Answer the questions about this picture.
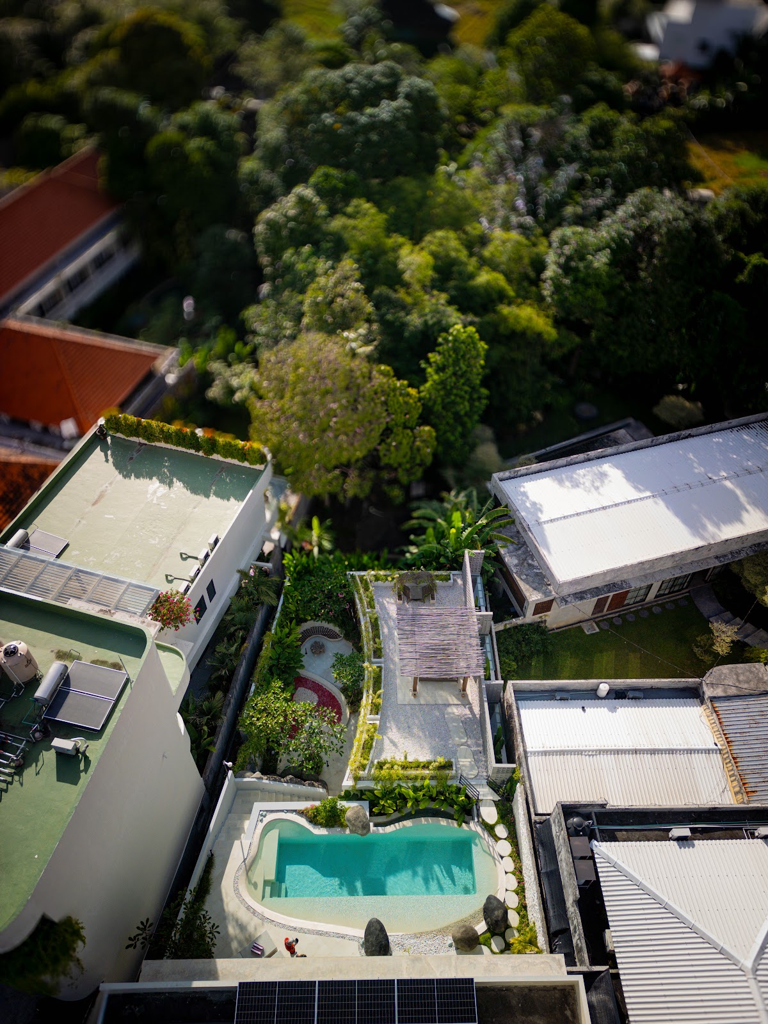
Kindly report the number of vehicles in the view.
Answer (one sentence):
No vehicles are visible.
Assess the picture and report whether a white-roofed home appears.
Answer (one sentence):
Yes, a white-roofed home is visible in the scene.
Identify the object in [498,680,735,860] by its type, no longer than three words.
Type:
house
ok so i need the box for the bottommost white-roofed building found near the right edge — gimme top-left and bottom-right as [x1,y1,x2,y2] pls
[587,841,768,1024]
